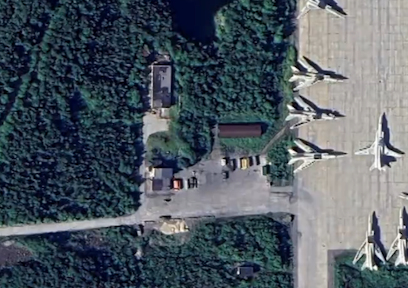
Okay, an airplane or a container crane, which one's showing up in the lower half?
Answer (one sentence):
The one visible in the lower half is an airplane.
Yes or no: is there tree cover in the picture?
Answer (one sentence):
Yes, there is tree cover in the image.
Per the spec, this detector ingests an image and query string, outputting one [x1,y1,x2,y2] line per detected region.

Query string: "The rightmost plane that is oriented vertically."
[388,209,408,265]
